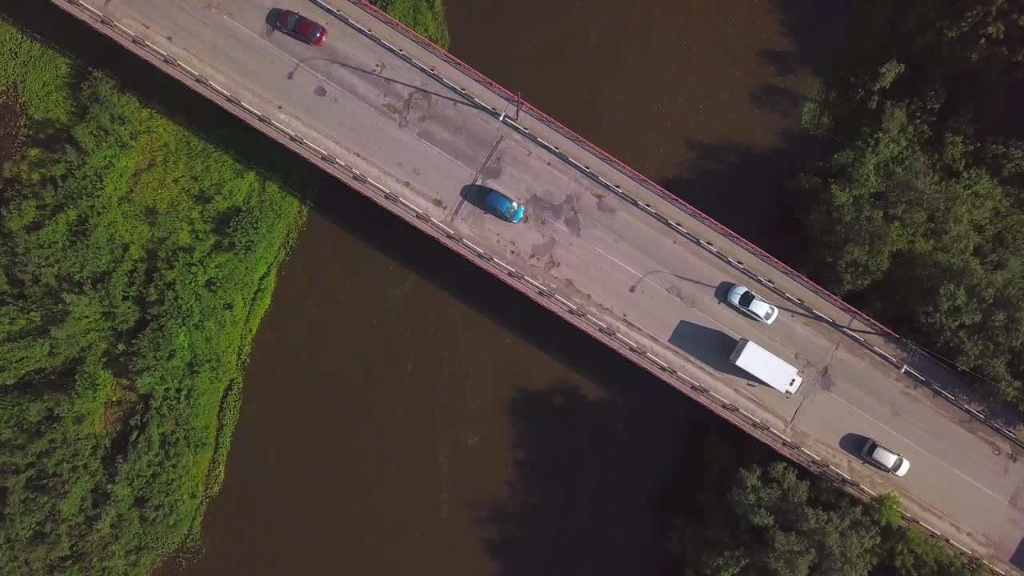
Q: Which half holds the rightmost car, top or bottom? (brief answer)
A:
bottom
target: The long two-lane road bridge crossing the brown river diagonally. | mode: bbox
[48,0,857,449]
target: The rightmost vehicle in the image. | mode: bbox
[860,440,907,476]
